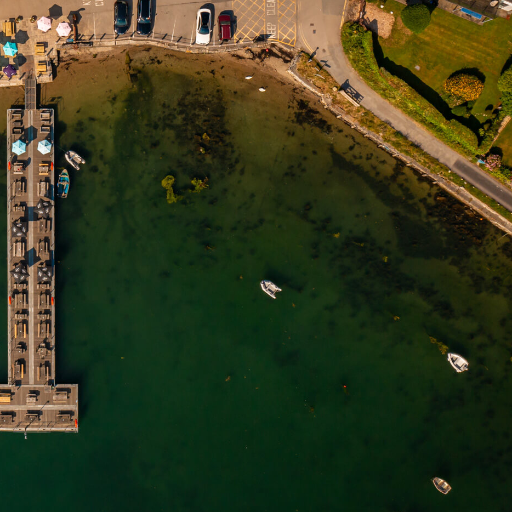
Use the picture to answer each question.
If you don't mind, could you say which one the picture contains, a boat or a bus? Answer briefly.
boat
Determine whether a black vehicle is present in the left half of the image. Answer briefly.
Yes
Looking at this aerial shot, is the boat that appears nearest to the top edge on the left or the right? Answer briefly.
left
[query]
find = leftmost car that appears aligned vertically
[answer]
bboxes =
[114,1,131,36]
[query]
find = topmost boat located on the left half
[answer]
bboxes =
[66,151,86,171]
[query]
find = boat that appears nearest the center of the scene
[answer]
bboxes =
[263,281,282,299]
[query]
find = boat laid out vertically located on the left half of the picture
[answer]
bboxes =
[57,170,69,197]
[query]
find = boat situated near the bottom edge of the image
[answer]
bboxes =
[435,479,453,497]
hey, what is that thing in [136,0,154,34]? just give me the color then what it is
black car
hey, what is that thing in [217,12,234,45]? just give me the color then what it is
red car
